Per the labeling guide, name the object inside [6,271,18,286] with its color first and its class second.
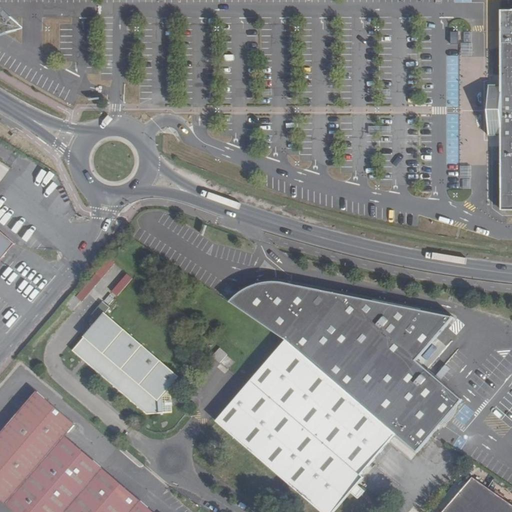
white vehicle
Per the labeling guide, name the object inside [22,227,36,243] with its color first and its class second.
white vehicle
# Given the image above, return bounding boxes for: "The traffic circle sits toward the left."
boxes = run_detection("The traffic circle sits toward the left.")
[90,136,138,186]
